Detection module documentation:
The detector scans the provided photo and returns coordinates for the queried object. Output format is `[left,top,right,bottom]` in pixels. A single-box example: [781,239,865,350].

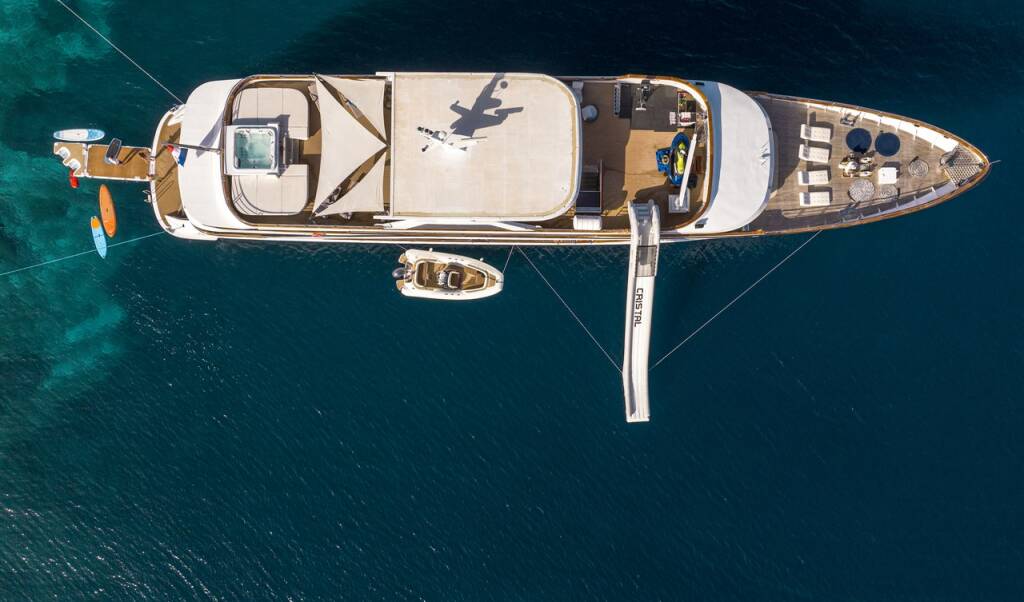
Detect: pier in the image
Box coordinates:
[54,143,150,183]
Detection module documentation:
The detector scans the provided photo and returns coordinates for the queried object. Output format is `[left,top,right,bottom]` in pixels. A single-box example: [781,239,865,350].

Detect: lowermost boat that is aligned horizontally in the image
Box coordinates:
[392,249,504,300]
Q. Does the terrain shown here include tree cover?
No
